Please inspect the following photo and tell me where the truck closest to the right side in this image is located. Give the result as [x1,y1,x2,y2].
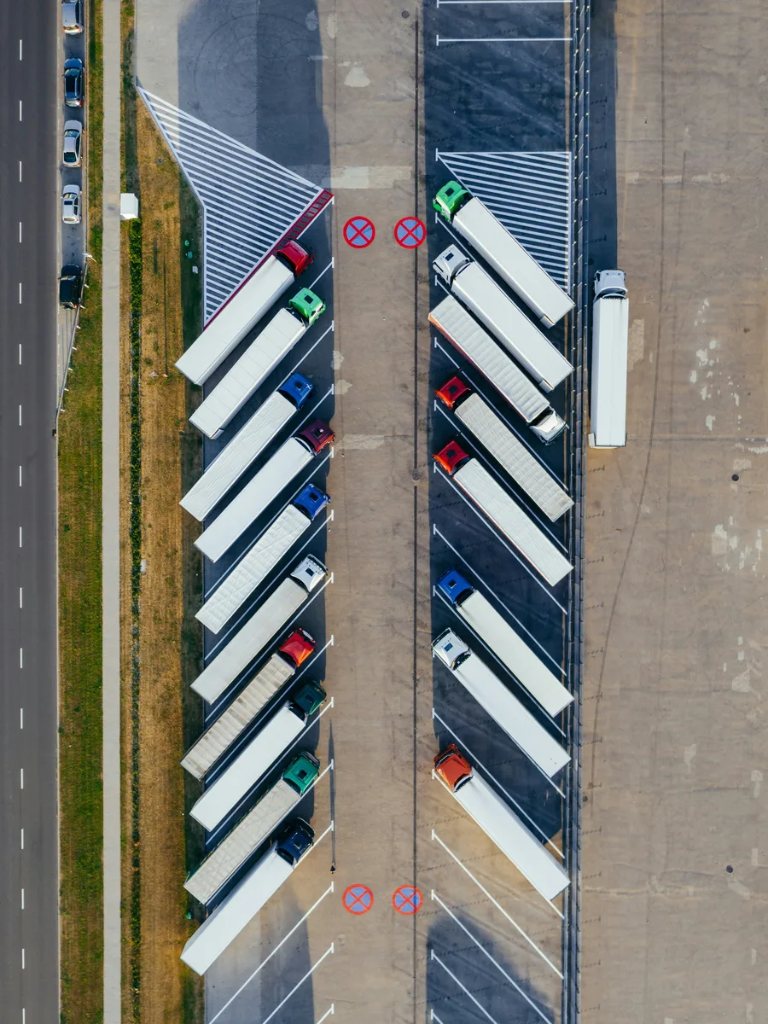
[588,269,628,448]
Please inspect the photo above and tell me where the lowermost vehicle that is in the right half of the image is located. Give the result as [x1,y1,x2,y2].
[433,743,571,900]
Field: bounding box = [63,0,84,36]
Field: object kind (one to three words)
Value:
car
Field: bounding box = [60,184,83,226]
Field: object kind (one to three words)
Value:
car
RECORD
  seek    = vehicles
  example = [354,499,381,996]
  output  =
[189,288,326,441]
[194,416,335,563]
[180,816,316,977]
[63,0,84,36]
[433,743,571,900]
[61,59,85,109]
[432,178,575,330]
[189,677,327,832]
[181,370,318,521]
[60,184,83,226]
[434,372,574,522]
[433,437,572,586]
[184,748,323,904]
[179,627,315,782]
[61,120,85,169]
[191,554,329,704]
[432,243,574,392]
[175,235,315,387]
[588,269,628,448]
[59,263,84,312]
[196,481,331,634]
[435,566,574,717]
[431,626,571,777]
[428,295,567,446]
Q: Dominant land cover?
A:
paved ground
